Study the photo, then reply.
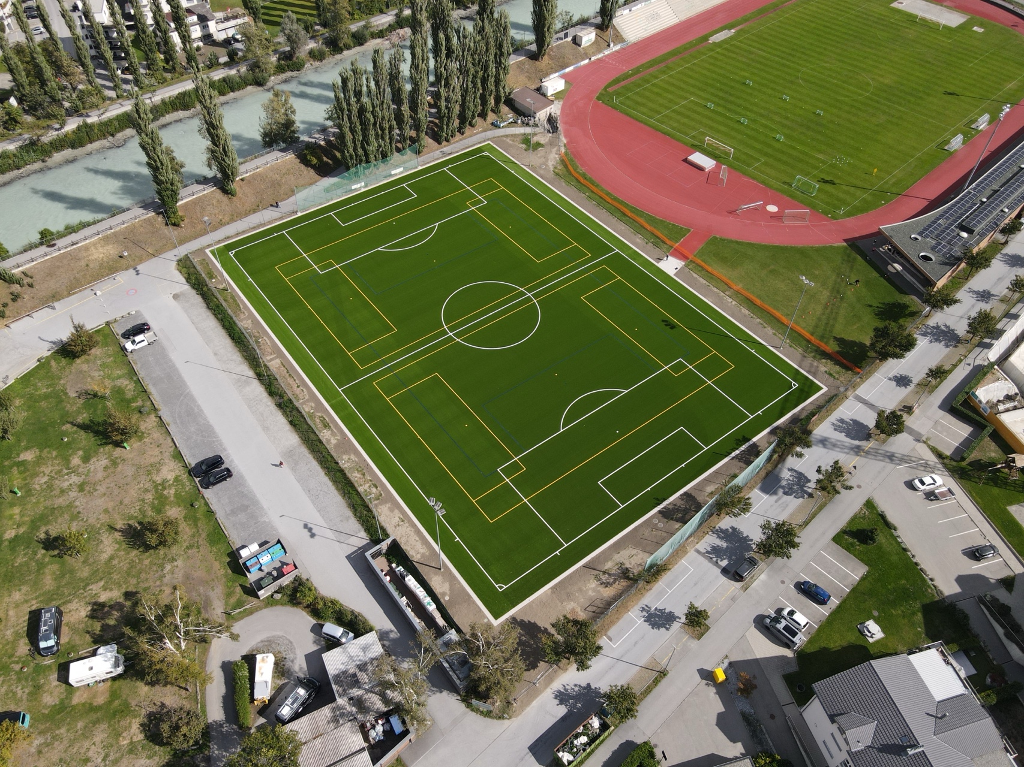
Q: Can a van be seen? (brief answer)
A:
Yes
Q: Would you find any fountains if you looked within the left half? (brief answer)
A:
No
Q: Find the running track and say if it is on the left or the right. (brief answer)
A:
right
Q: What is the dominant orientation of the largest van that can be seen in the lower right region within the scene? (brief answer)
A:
diagonally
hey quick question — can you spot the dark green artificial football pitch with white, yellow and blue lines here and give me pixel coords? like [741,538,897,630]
[207,142,826,619]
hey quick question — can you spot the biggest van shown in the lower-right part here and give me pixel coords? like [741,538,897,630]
[763,617,805,653]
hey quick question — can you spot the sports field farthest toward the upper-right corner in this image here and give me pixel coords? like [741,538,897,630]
[596,0,1024,220]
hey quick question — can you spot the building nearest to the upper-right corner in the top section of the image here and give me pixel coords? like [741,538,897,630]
[879,139,1024,300]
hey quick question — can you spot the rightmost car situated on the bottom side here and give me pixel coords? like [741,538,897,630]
[970,544,1001,563]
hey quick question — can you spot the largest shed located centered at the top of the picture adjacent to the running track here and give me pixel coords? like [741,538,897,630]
[512,85,554,123]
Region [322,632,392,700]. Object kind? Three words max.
shed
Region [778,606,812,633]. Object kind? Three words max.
car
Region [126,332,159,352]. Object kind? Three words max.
vehicle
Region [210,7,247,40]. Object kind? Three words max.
building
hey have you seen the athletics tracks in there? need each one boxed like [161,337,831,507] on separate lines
[558,0,1024,261]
